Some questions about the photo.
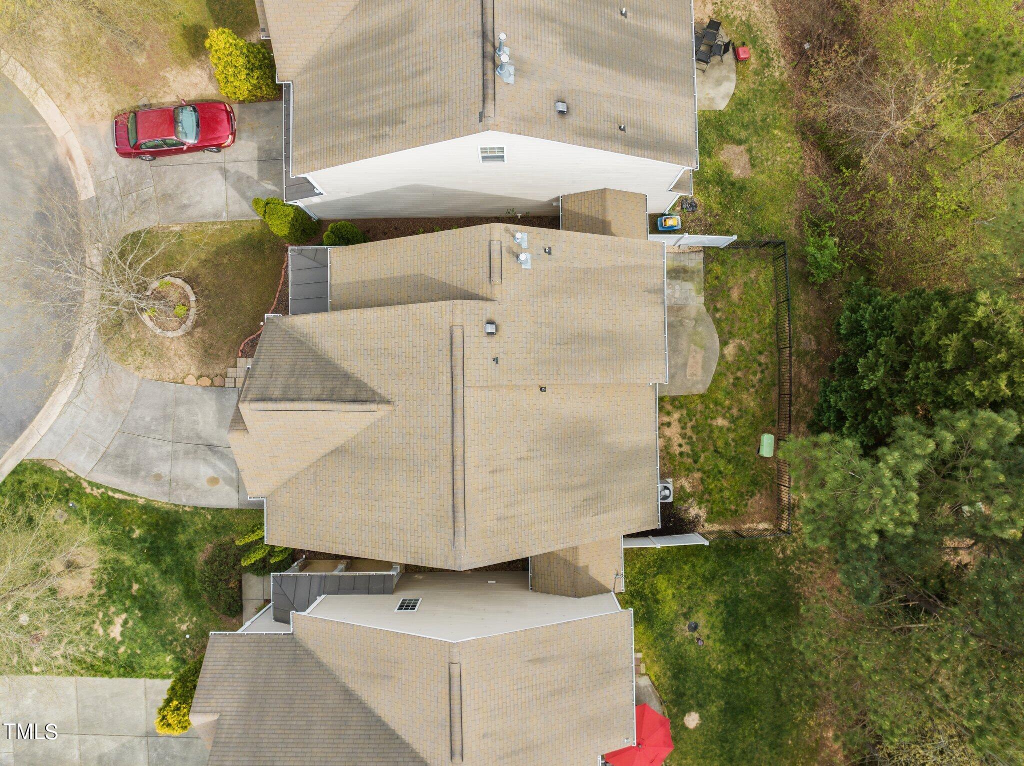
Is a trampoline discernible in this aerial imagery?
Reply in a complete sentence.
No, there's no trampoline here.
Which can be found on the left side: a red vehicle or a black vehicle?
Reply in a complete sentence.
The one visible on the left side is a red vehicle.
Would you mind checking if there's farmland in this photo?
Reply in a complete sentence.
No, no farmland is visible.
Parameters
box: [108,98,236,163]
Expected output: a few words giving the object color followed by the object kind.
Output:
red car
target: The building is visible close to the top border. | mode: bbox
[246,0,701,240]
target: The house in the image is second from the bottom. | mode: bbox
[225,223,671,569]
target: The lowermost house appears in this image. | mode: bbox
[184,546,639,766]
